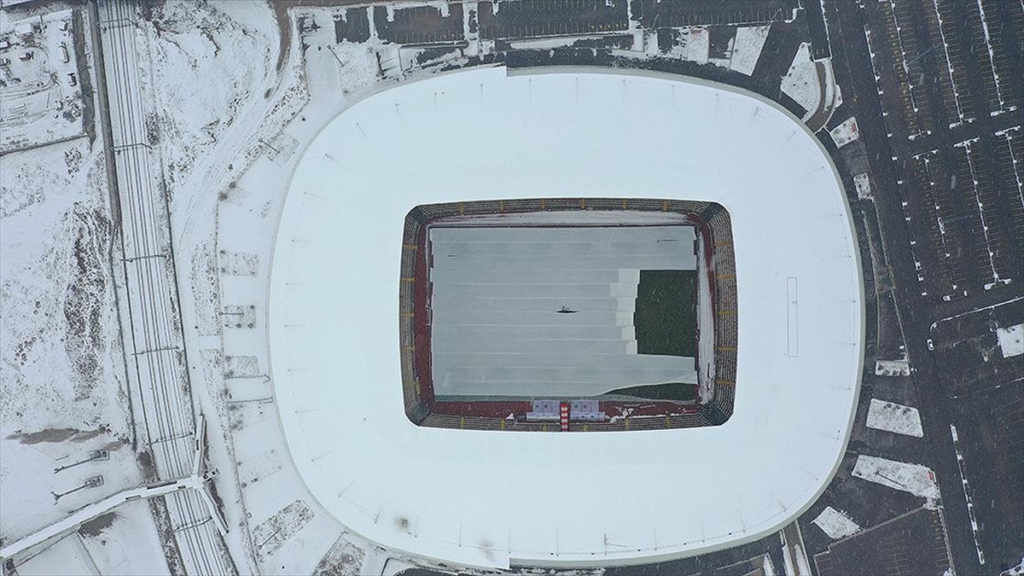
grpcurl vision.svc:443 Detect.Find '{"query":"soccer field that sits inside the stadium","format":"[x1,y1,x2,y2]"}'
[604,227,698,400]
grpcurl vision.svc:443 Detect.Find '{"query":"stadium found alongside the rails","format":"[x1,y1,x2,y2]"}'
[268,64,865,572]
